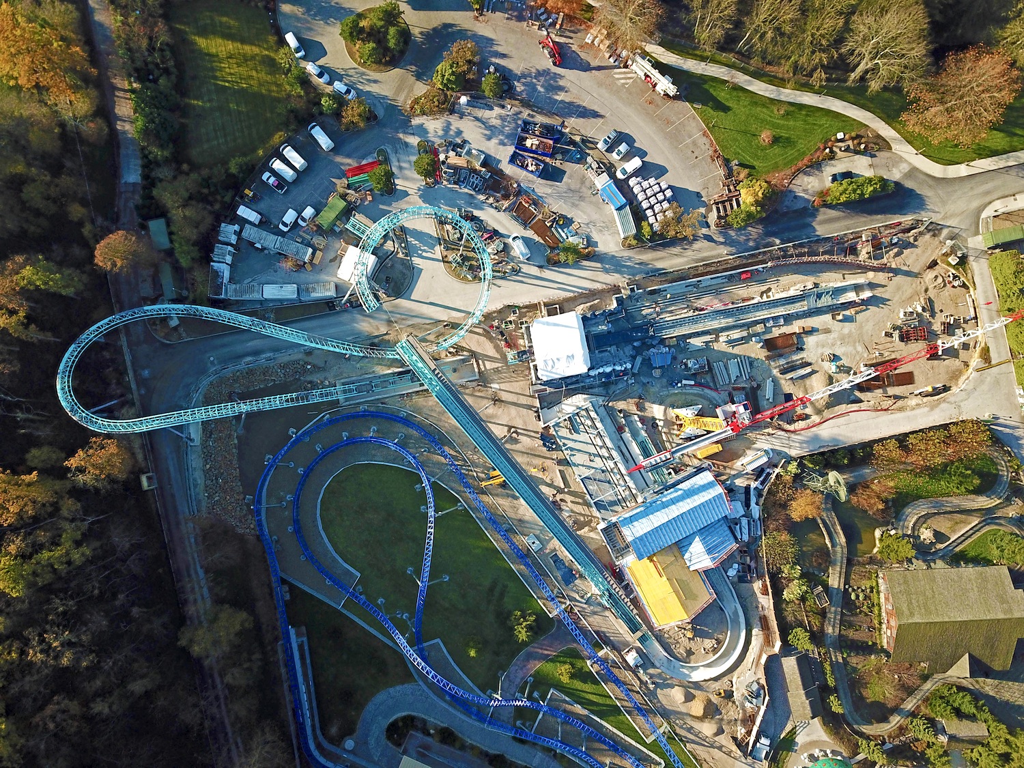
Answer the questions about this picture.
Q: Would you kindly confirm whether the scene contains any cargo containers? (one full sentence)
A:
Yes, there's a cargo container down there.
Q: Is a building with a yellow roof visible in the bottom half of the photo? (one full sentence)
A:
Yes, a building with a yellow roof can be seen in the bottom half of the photo.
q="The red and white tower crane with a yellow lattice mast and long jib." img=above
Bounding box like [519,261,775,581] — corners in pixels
[629,309,1024,475]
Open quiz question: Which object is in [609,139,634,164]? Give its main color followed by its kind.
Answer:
white car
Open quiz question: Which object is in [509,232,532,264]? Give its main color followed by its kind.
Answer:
white vehicle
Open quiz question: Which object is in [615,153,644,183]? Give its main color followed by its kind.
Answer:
white van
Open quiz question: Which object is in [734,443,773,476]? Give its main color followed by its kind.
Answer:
white vehicle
